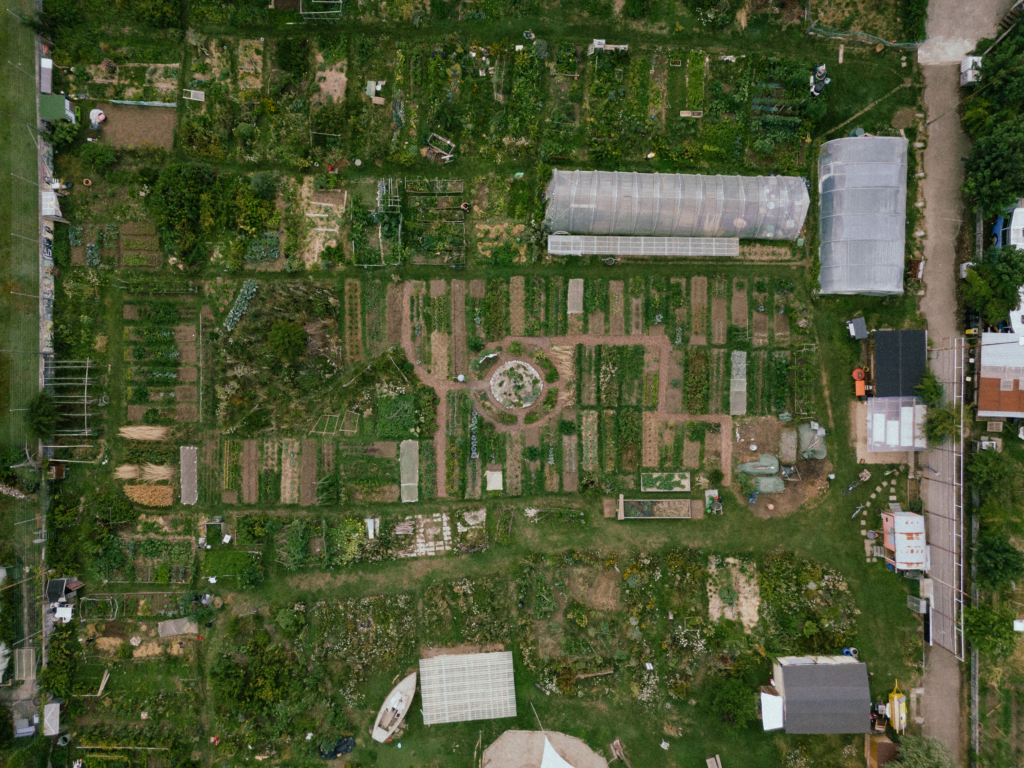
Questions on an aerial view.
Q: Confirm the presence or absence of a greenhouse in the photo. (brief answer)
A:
Yes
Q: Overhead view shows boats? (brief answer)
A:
Yes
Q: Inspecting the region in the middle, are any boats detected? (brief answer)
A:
No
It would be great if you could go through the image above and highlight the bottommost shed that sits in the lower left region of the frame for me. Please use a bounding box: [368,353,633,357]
[44,696,72,735]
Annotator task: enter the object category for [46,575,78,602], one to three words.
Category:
shed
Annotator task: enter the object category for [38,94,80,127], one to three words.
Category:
shed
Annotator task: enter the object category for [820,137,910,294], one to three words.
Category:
greenhouse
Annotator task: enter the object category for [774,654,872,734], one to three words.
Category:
house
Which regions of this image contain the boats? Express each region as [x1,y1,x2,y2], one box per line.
[370,675,415,747]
